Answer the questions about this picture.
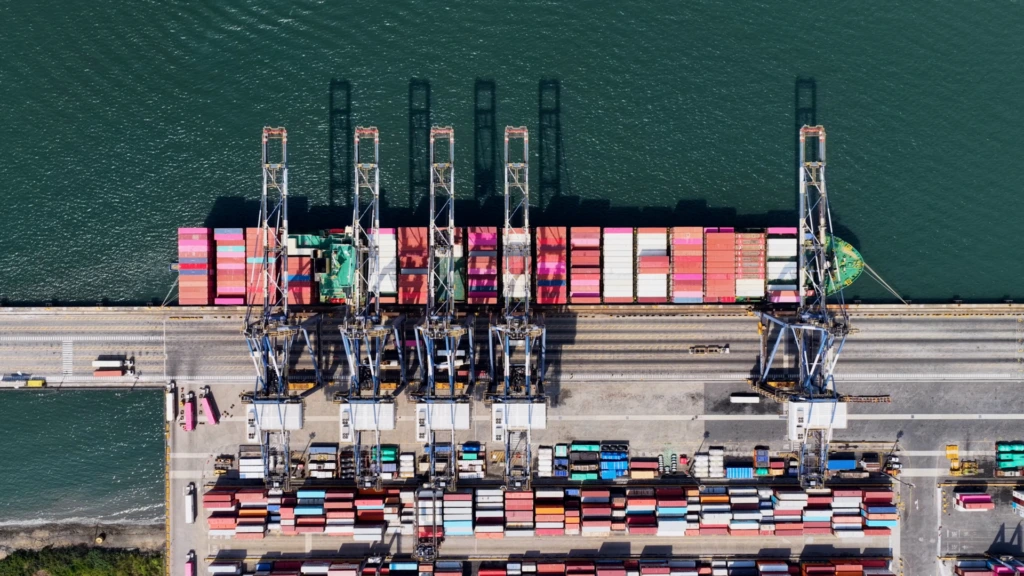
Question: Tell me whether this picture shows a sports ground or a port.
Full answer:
The picture captures a port.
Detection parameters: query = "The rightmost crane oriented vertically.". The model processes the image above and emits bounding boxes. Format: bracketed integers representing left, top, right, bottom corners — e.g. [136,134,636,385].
[741,125,854,493]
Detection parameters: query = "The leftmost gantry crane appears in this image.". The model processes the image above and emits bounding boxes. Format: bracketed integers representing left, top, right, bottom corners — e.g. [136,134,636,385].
[239,126,339,494]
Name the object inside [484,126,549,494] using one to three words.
container crane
